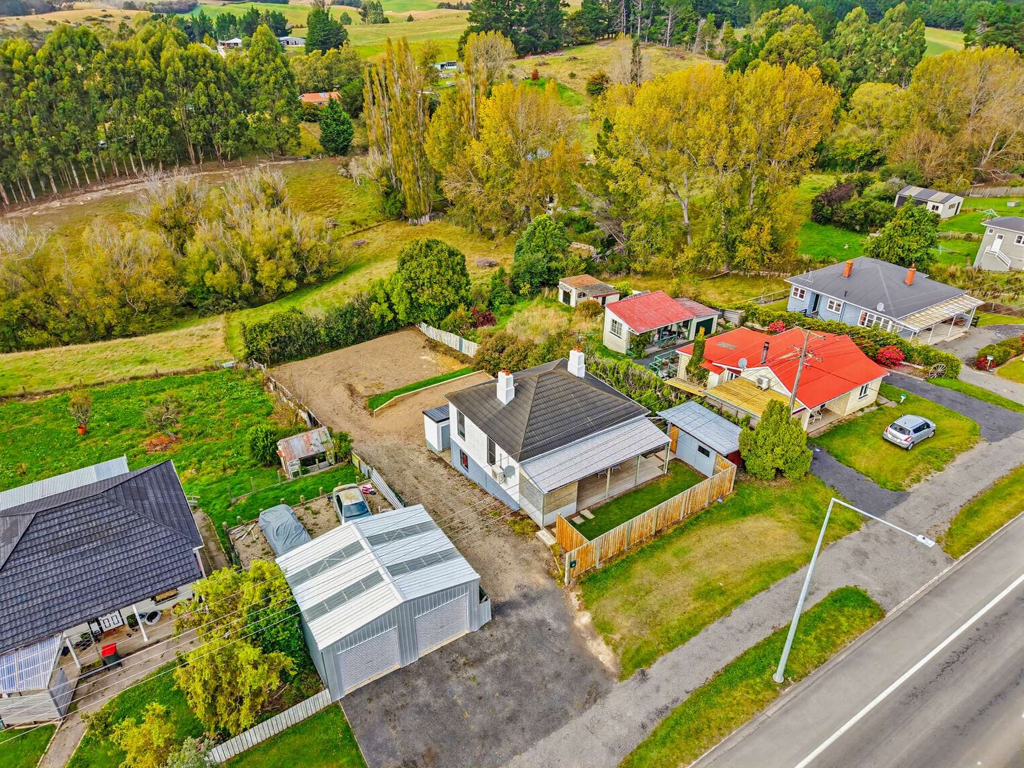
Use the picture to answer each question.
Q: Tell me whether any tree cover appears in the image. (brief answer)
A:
Yes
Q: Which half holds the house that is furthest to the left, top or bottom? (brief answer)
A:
bottom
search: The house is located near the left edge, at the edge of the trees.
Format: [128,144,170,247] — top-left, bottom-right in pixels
[0,454,211,745]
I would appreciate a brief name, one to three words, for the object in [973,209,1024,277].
house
